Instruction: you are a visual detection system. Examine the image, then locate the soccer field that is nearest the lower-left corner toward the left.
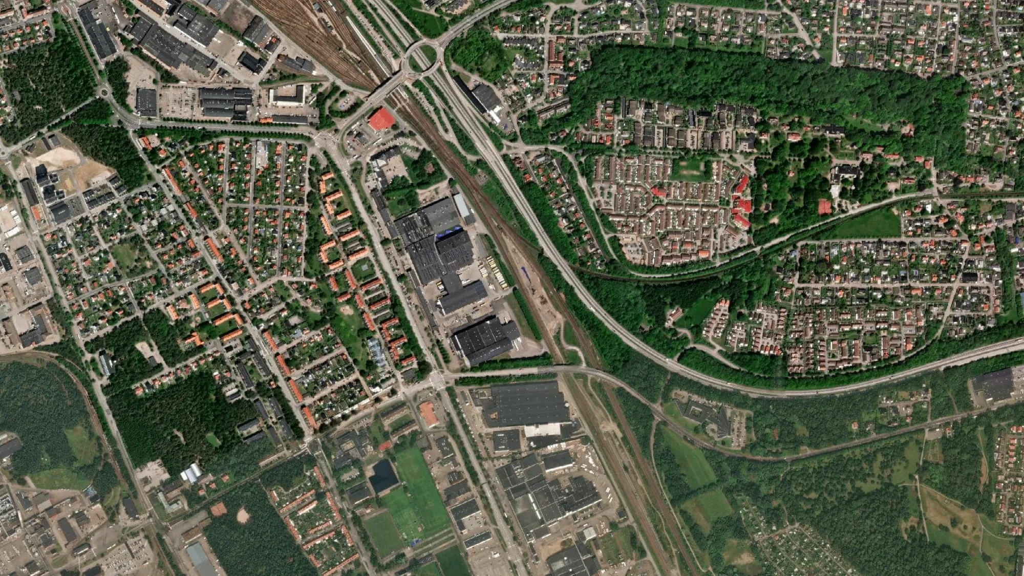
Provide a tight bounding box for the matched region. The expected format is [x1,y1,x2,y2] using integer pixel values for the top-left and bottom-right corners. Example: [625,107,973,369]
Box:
[365,510,403,558]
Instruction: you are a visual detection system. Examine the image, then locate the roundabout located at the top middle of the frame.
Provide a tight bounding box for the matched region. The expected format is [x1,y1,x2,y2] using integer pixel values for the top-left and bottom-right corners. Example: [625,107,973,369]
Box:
[402,40,444,80]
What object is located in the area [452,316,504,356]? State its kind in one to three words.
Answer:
building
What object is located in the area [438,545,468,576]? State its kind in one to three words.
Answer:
soccer field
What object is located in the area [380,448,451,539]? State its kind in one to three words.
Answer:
sports field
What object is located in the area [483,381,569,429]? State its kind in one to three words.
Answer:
building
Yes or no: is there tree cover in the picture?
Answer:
Yes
